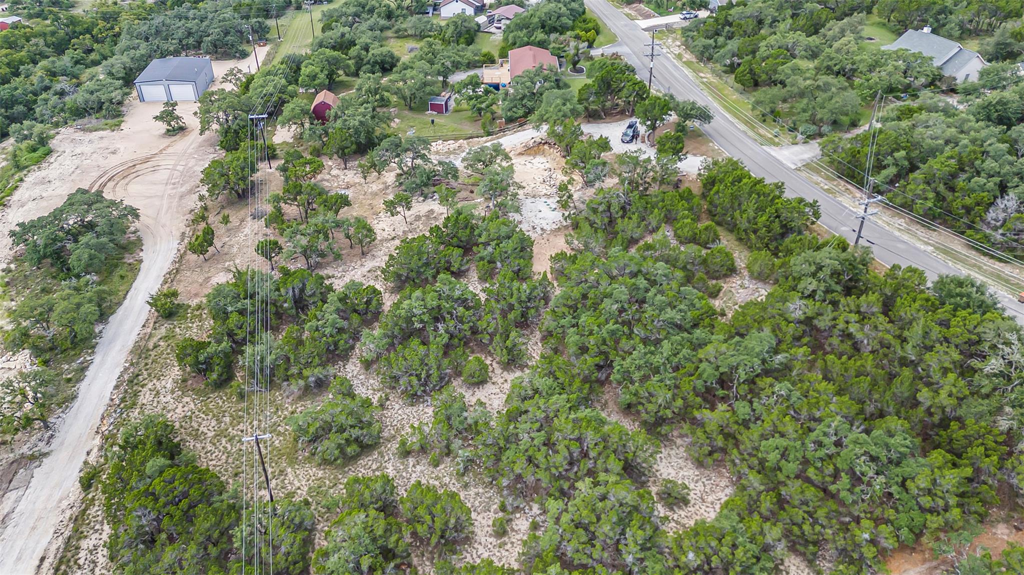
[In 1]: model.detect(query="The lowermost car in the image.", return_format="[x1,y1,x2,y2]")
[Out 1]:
[622,120,641,141]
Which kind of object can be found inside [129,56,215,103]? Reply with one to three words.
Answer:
building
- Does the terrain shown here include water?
No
